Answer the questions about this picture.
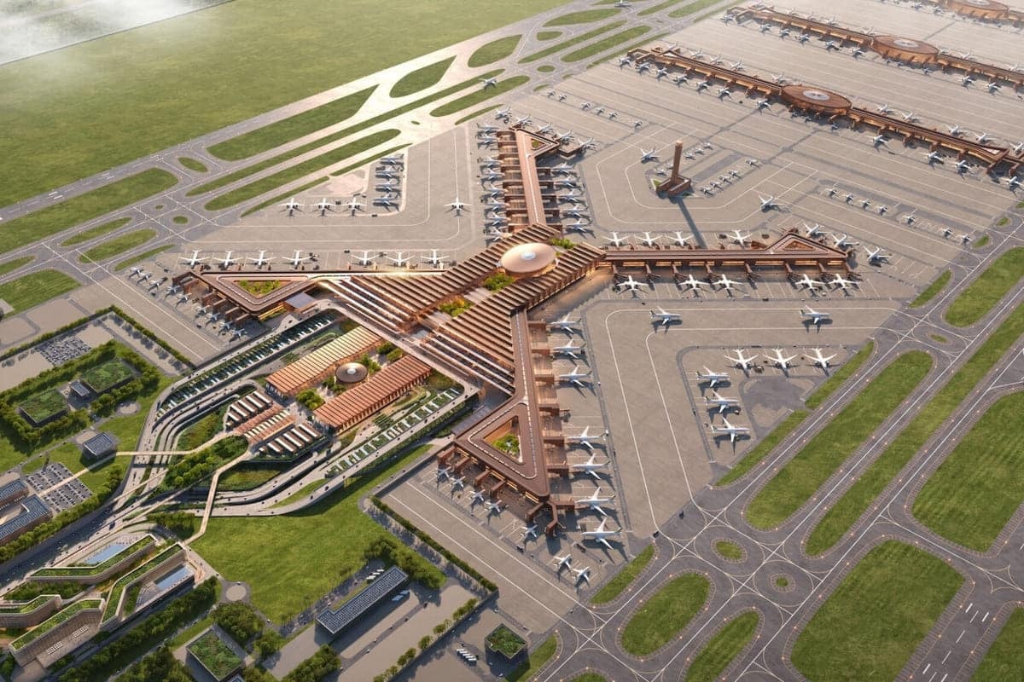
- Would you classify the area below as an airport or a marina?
airport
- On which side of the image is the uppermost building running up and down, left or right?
right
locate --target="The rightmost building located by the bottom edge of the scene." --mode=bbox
[485,623,527,666]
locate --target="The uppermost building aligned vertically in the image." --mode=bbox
[655,134,691,202]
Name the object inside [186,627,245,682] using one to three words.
building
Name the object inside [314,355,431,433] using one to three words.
building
